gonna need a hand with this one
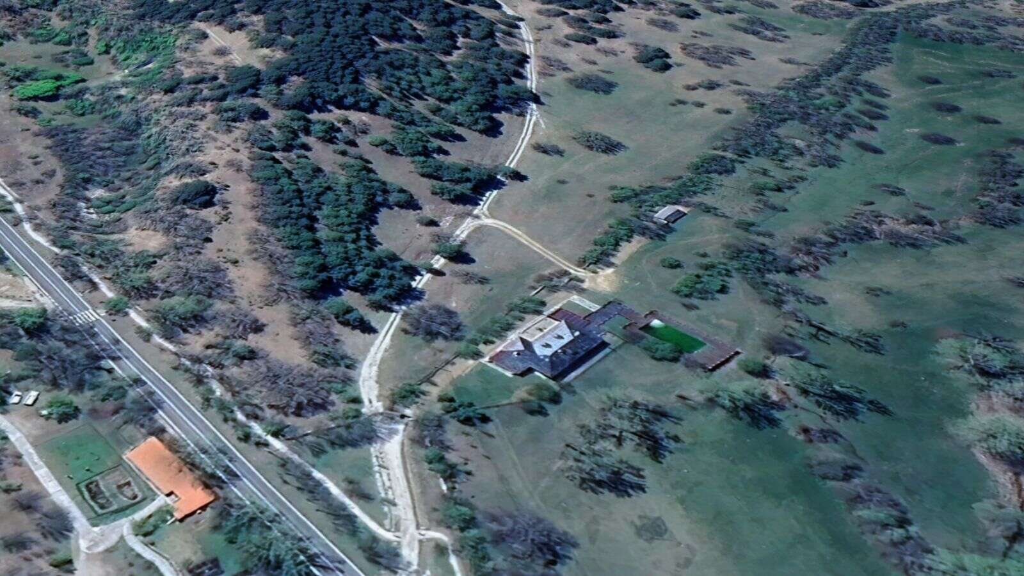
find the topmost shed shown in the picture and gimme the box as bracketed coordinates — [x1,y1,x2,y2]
[649,209,686,233]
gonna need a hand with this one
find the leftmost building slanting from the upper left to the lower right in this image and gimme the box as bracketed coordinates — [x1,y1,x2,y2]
[123,437,215,526]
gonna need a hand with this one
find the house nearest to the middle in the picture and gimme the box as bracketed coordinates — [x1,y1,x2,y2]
[490,306,605,380]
